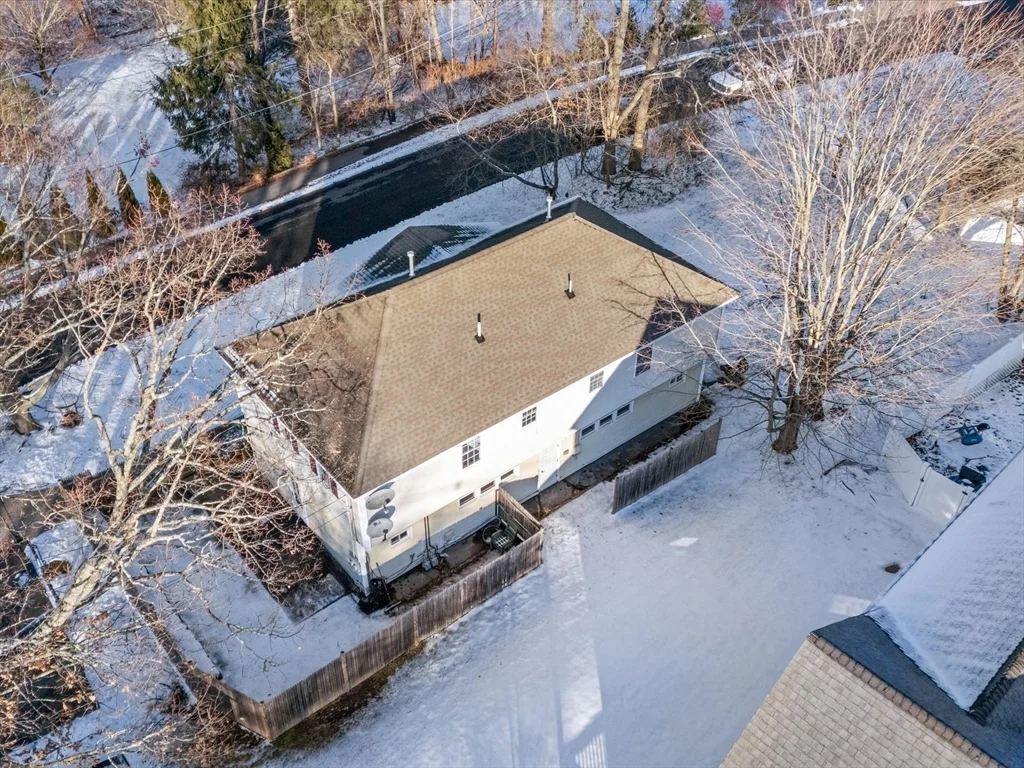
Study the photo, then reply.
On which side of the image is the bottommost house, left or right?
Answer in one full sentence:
The bottommost house sits on the right side.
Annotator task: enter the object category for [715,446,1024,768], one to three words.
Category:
house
